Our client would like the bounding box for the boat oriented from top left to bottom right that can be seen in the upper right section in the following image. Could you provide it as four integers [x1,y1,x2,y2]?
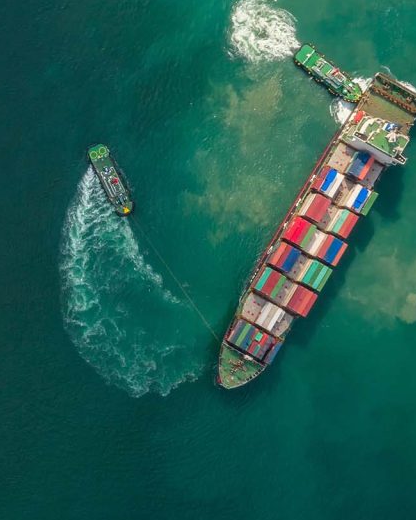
[292,42,363,104]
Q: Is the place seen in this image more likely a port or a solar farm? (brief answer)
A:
port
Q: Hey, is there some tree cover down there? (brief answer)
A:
No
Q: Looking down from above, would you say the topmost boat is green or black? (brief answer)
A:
green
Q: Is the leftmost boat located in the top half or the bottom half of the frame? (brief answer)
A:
top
